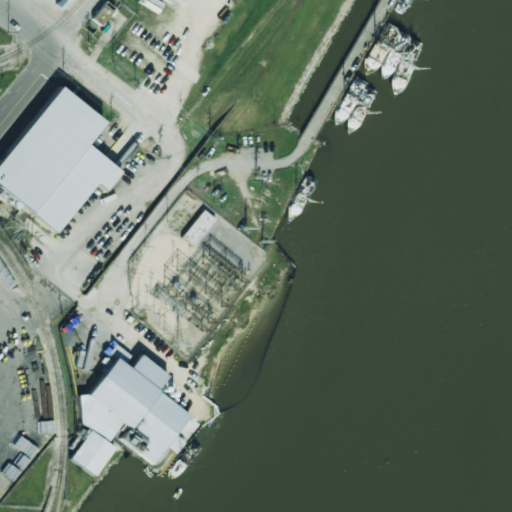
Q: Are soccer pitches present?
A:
No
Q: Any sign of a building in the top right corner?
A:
No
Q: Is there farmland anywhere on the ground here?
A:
No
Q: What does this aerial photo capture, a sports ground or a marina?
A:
marina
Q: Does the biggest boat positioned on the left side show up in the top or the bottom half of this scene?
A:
bottom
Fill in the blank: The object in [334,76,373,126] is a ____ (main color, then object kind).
white boat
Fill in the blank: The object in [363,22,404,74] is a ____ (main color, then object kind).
white boat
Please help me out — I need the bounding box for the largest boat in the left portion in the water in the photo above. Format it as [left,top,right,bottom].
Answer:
[168,442,206,480]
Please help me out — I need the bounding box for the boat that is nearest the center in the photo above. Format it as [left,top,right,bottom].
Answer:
[286,174,324,224]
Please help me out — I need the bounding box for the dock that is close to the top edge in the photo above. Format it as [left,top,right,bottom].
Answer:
[301,0,398,153]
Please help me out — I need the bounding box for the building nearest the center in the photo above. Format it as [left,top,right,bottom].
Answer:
[182,209,216,246]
